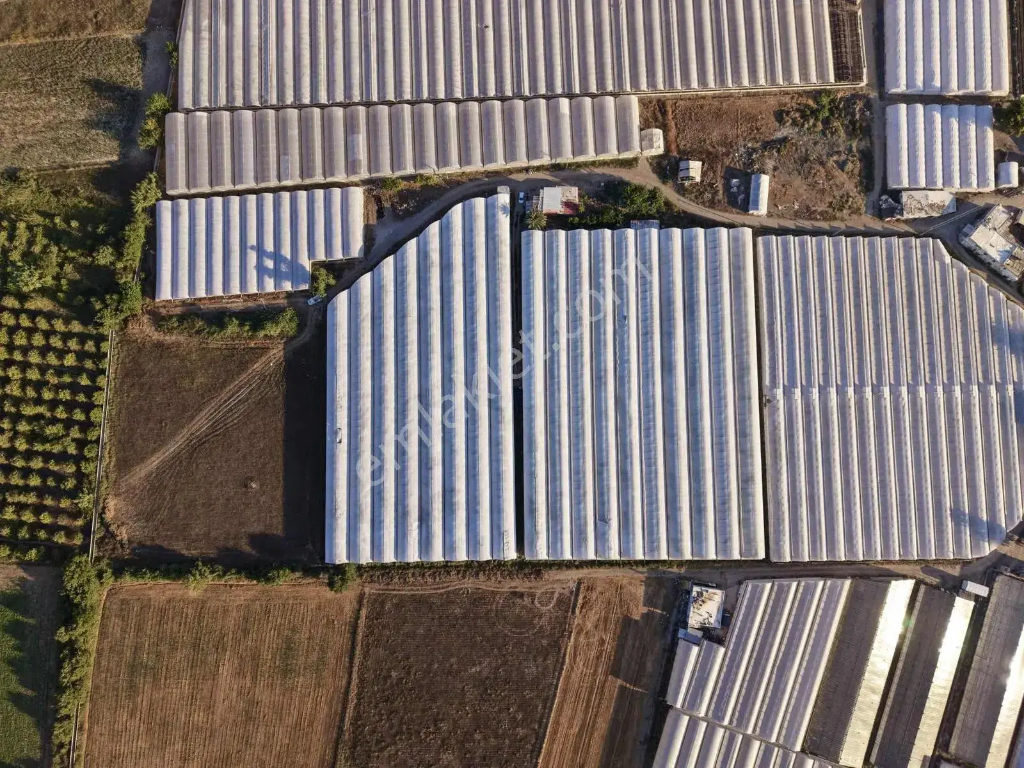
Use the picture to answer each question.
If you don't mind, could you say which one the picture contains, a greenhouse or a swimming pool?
greenhouse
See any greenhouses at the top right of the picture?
Yes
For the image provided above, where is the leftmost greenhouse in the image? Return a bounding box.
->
[155,185,366,302]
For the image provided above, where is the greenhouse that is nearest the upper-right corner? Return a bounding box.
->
[879,0,1009,99]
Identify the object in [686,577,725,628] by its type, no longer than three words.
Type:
house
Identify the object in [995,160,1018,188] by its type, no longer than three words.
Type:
greenhouse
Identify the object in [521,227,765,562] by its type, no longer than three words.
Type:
greenhouse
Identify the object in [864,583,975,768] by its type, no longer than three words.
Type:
shed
